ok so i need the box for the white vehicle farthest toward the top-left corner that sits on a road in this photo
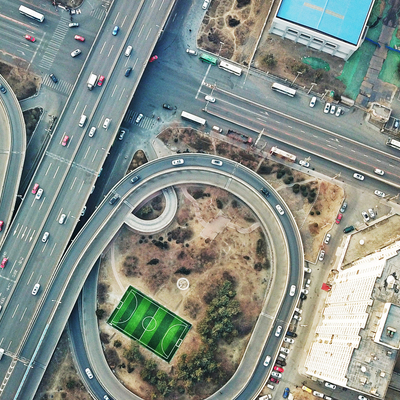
[18,5,46,24]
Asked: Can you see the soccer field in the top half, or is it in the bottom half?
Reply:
bottom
